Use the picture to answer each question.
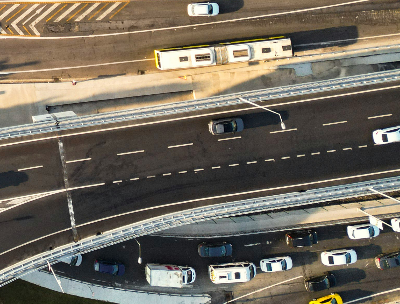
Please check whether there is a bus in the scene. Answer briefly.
Yes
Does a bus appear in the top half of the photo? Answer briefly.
Yes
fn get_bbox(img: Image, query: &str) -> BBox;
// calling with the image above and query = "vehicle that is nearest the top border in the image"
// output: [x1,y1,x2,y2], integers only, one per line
[185,1,219,17]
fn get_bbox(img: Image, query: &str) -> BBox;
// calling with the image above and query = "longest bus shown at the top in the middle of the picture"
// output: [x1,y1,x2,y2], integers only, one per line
[151,38,297,71]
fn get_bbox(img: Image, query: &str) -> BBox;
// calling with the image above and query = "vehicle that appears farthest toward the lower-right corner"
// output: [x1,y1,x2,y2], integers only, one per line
[374,248,400,269]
